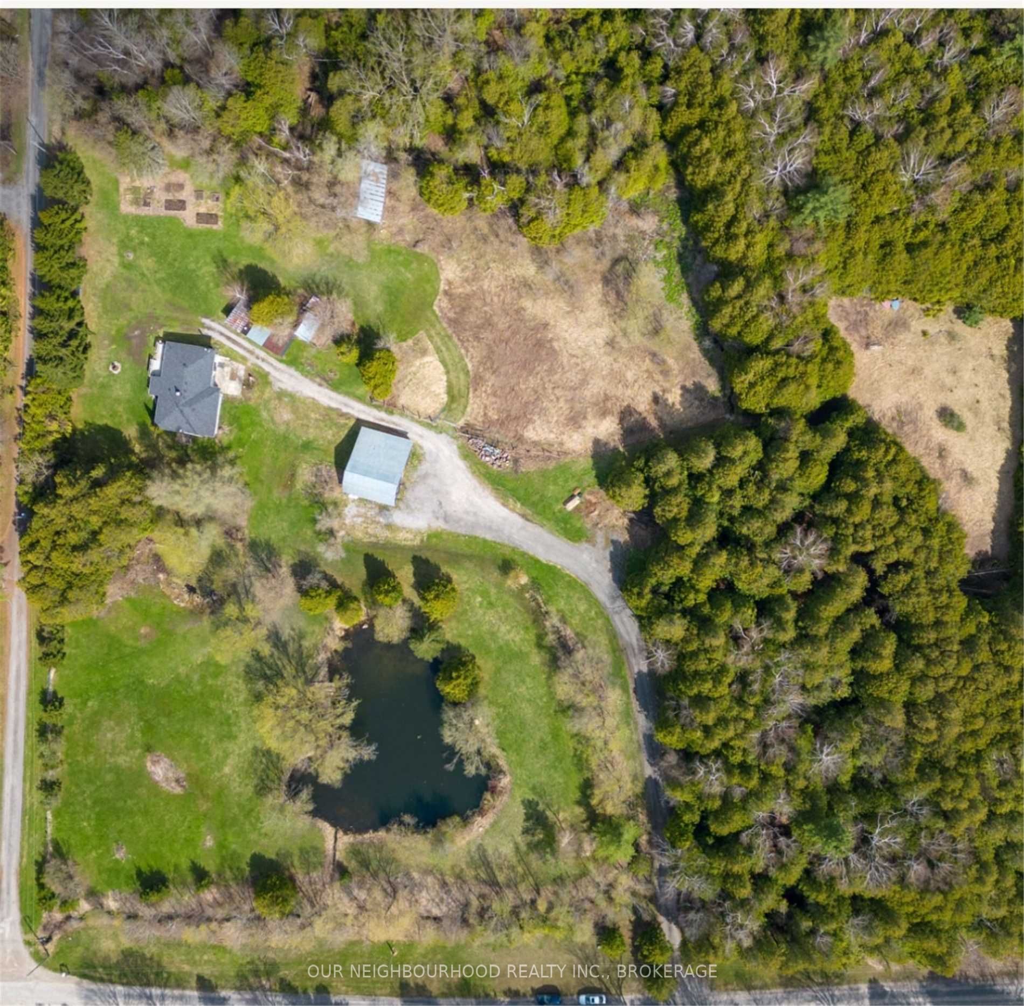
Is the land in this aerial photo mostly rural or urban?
rural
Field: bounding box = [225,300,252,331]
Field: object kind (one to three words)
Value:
shed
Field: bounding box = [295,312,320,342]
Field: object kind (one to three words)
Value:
shed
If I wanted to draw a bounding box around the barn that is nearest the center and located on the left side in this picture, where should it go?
[342,426,413,506]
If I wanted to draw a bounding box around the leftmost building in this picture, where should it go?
[149,341,223,438]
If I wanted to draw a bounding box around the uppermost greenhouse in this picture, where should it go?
[358,162,388,225]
